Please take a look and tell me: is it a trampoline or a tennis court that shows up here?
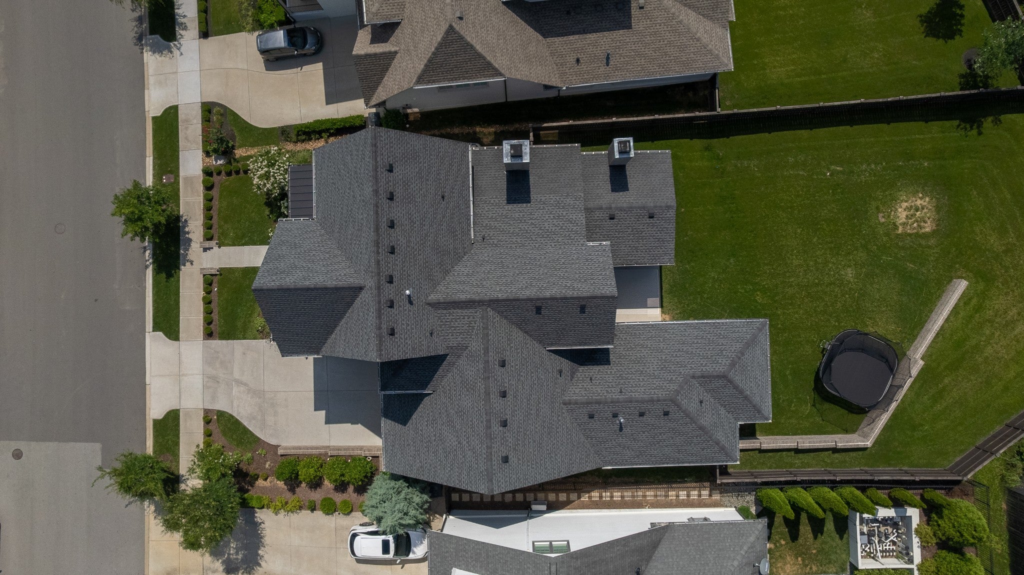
trampoline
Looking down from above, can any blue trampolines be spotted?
No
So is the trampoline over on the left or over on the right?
right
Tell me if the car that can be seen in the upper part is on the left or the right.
left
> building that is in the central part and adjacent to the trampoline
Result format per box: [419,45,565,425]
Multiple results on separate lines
[253,127,774,495]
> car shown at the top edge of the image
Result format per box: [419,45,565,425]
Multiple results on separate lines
[255,25,323,63]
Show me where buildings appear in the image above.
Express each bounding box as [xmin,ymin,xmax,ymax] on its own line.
[253,127,774,495]
[274,0,736,112]
[426,505,770,575]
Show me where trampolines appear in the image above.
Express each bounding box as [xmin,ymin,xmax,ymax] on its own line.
[815,328,912,418]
